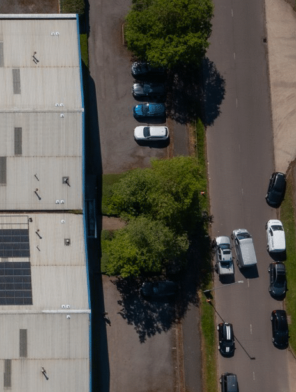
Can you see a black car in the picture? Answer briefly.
Yes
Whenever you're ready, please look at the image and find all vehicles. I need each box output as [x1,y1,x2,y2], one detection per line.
[265,263,288,298]
[217,374,238,392]
[215,325,235,357]
[266,312,290,350]
[129,61,168,80]
[262,170,288,207]
[132,102,167,120]
[212,237,236,277]
[230,229,261,271]
[131,82,169,99]
[132,125,170,144]
[262,219,289,255]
